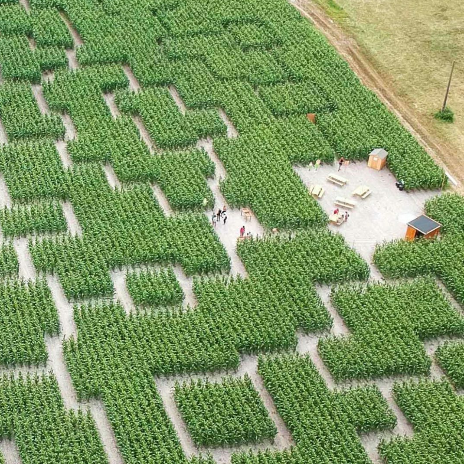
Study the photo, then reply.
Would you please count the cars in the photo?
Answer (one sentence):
No cars are visible.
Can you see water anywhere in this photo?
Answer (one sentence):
No, no water is visible.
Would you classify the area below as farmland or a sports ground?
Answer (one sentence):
The area seen from above is farmland.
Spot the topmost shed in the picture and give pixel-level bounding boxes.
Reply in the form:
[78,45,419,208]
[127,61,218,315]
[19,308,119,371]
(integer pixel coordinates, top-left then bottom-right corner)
[369,146,389,171]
